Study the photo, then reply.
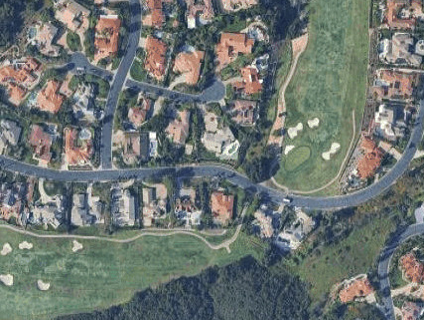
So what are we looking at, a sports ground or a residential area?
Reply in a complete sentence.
This looks like a residential area.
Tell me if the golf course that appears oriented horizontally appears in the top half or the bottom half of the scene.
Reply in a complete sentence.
You can find the golf course that appears oriented horizontally in the bottom half.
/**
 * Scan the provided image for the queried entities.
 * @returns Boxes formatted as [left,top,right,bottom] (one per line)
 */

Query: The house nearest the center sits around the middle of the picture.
[195,120,238,157]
